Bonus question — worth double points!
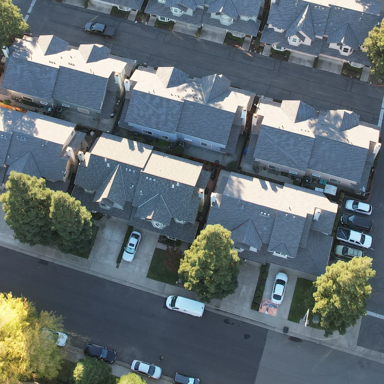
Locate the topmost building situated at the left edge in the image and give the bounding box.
[0,34,131,124]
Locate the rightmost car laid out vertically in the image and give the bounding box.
[271,272,287,305]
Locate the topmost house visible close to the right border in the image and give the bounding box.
[265,0,384,73]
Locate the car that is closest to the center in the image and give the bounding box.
[123,231,141,263]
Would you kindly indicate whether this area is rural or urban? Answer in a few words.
urban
